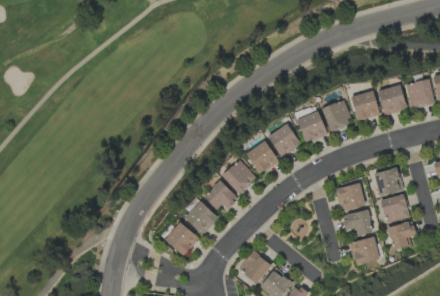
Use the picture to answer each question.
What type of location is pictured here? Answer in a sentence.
This image shows a golf course.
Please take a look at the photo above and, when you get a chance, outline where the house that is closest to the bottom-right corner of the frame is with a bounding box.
[388,222,416,250]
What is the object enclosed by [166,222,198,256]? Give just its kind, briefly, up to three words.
house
